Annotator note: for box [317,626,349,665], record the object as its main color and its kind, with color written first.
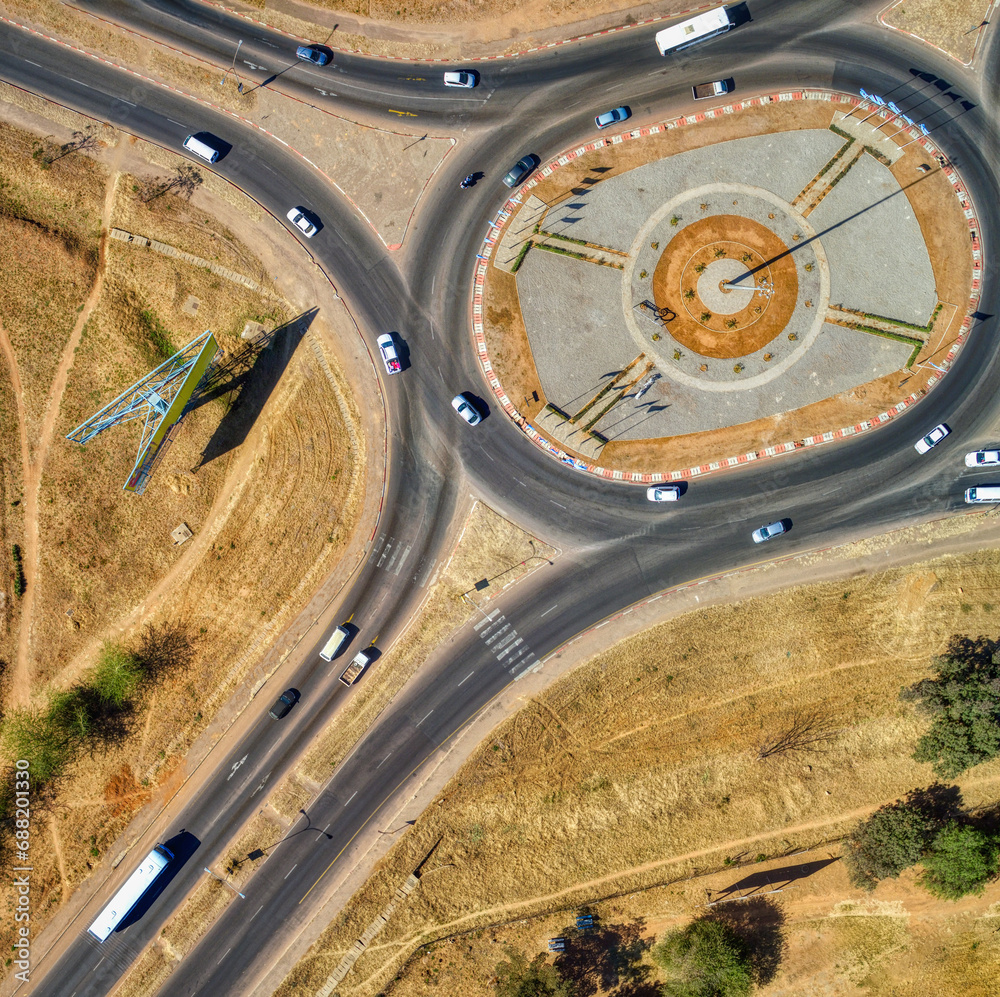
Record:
white vehicle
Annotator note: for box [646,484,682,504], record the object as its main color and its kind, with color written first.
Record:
white car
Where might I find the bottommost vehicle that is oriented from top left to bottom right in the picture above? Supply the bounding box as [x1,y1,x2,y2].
[448,393,483,429]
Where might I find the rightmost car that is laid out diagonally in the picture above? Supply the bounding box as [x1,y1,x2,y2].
[914,420,954,455]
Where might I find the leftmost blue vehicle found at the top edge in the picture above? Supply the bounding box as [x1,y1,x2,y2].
[293,42,330,67]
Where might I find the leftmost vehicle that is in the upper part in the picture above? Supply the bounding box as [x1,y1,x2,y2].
[181,134,218,162]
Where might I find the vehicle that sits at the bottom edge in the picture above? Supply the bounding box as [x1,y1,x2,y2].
[80,845,174,954]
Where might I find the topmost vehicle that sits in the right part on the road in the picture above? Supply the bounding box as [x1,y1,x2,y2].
[654,0,738,54]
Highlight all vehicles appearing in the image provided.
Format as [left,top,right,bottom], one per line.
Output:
[501,152,538,187]
[268,687,300,723]
[181,134,218,162]
[595,104,630,128]
[691,77,729,100]
[337,649,368,688]
[646,484,682,504]
[966,485,1000,505]
[293,42,330,67]
[966,449,1000,469]
[751,520,790,545]
[376,334,401,376]
[444,68,476,87]
[448,393,483,429]
[914,420,954,455]
[282,204,319,240]
[317,626,349,665]
[80,845,174,954]
[654,0,738,54]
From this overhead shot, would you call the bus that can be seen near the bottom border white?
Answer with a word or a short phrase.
Yes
